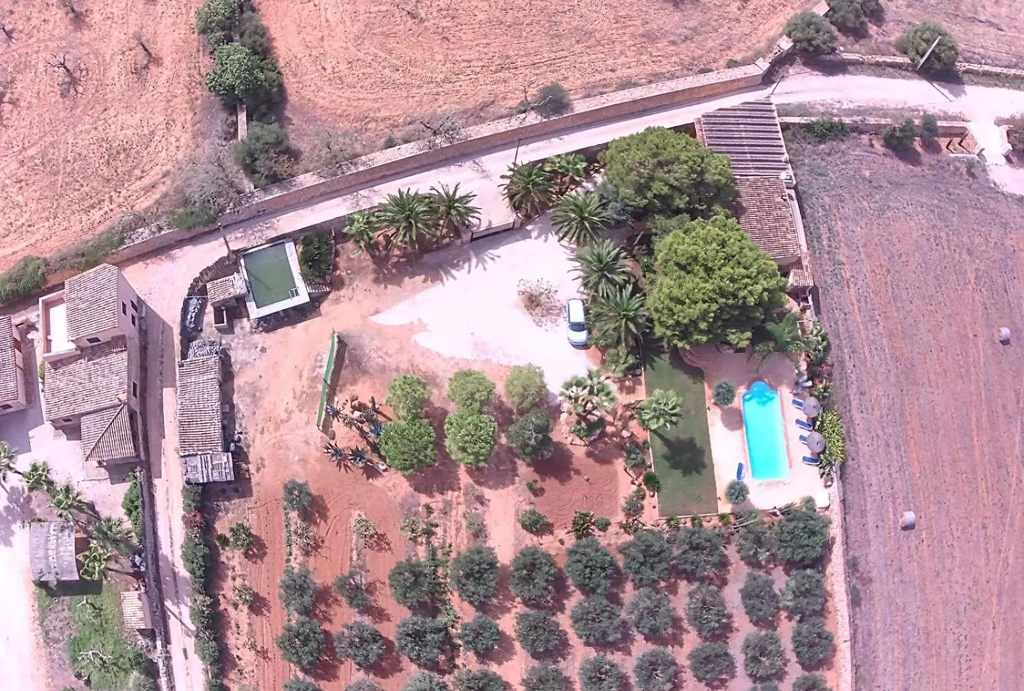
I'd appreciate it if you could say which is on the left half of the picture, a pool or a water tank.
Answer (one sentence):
The feature located on the left half of the picture is a water tank.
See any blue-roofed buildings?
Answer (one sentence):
No, this view has no blue-roofed building in it.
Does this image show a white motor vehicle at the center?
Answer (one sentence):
Yes, you'll find a white motor vehicle at the center.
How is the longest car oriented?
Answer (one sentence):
The longest car runs up and down in the image.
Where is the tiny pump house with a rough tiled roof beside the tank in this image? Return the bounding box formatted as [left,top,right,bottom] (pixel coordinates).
[206,271,247,307]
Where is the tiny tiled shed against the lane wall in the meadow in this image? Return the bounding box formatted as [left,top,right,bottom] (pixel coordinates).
[120,593,150,630]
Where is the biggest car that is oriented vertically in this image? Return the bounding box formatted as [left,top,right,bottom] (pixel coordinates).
[566,300,591,349]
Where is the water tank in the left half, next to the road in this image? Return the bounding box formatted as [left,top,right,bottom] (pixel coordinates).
[239,237,312,325]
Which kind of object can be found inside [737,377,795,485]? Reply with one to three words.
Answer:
swimming pool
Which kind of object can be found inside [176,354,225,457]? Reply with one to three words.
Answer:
barn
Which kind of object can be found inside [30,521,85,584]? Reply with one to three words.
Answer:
shed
